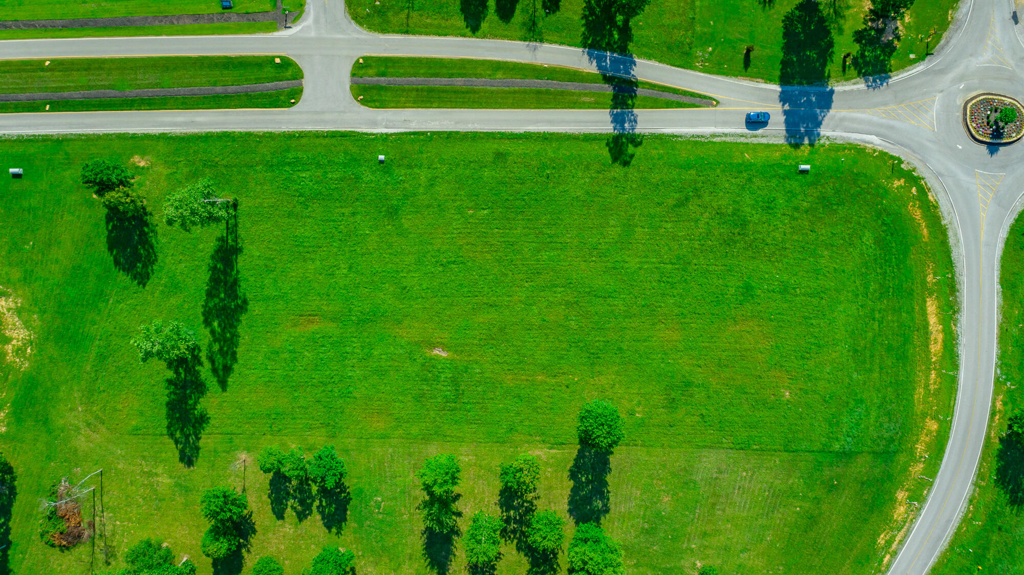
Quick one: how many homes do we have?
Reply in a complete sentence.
Not a single home can be seen.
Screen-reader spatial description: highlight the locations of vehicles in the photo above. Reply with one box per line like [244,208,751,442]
[745,112,769,123]
[221,0,231,10]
